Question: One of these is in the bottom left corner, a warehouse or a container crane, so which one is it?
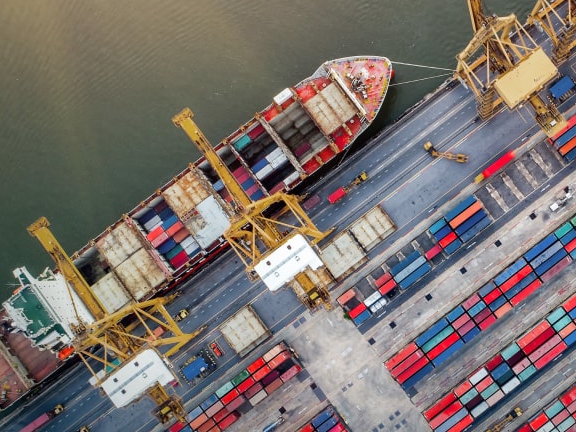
container crane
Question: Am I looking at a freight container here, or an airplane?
freight container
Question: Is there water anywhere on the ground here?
Yes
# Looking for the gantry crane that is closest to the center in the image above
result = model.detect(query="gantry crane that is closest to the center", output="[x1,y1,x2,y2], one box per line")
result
[171,105,338,318]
